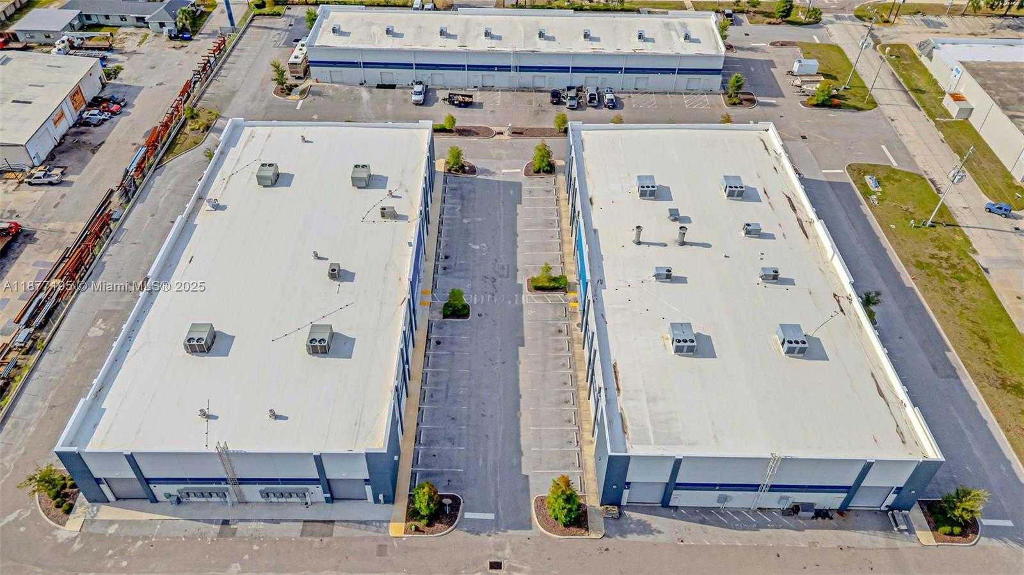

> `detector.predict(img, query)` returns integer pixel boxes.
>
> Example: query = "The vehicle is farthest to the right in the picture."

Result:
[983,200,1018,218]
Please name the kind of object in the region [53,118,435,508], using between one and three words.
warehouse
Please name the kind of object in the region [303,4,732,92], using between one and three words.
building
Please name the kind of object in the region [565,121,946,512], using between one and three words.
warehouse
